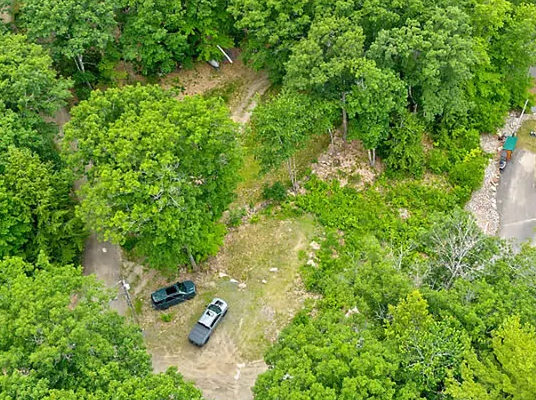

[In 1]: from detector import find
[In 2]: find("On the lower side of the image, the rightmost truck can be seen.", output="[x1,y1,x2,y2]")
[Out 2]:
[187,298,229,349]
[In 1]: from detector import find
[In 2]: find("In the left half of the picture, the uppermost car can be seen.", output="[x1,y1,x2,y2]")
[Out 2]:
[150,281,197,309]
